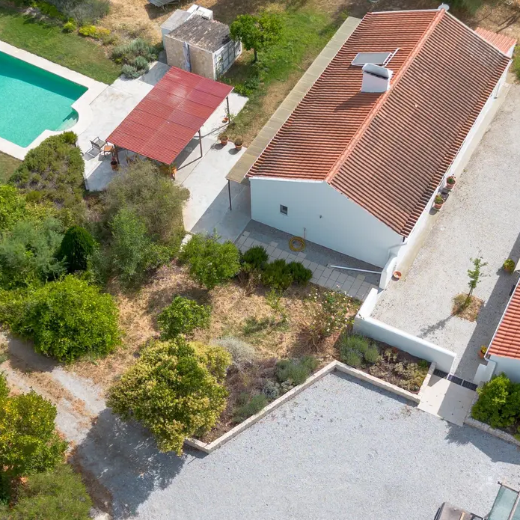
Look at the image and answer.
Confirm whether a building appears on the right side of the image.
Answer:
Yes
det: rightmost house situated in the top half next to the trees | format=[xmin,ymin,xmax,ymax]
[244,6,519,278]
